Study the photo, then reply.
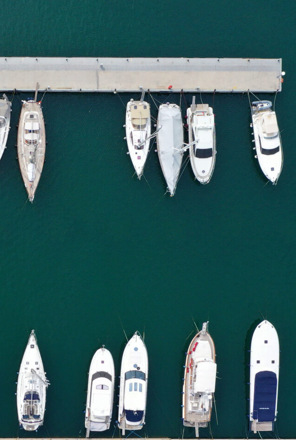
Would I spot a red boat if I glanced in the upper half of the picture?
No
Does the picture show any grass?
No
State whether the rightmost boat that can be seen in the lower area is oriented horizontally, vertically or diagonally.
vertically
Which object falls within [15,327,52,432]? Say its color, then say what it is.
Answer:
white boat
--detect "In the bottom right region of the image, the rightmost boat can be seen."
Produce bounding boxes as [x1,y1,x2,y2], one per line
[245,313,279,439]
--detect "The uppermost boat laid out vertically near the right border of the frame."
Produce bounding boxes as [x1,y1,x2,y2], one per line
[249,91,284,186]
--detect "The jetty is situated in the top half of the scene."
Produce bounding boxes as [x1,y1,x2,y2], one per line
[0,58,280,92]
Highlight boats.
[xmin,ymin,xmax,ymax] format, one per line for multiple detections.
[149,91,199,197]
[183,91,219,186]
[117,91,163,181]
[15,327,52,432]
[180,321,217,439]
[15,83,49,207]
[0,92,14,159]
[84,346,116,439]
[252,98,273,110]
[245,313,279,439]
[249,91,284,186]
[112,326,149,440]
